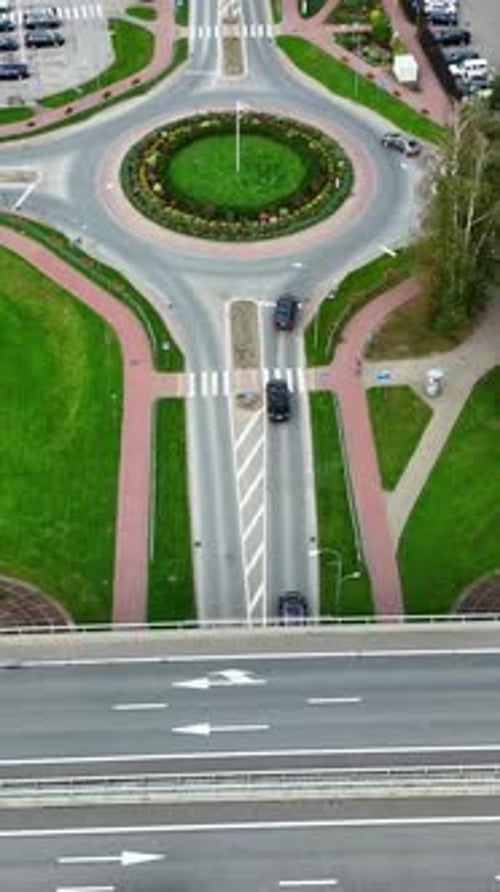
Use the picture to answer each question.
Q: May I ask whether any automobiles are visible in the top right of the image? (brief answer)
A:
Yes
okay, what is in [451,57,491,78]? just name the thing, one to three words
vehicle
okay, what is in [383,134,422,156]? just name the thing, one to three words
car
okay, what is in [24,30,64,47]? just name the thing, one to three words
car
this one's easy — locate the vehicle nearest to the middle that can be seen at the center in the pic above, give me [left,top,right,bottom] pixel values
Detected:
[266,380,292,423]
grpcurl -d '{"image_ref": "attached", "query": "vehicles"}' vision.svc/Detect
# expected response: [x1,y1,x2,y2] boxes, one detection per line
[436,30,472,47]
[274,296,298,331]
[0,16,16,32]
[424,370,446,397]
[429,10,463,27]
[24,30,64,47]
[383,134,422,156]
[444,46,480,62]
[0,0,10,12]
[266,380,292,423]
[0,63,30,80]
[0,35,17,51]
[24,10,60,27]
[277,597,307,625]
[451,57,491,78]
